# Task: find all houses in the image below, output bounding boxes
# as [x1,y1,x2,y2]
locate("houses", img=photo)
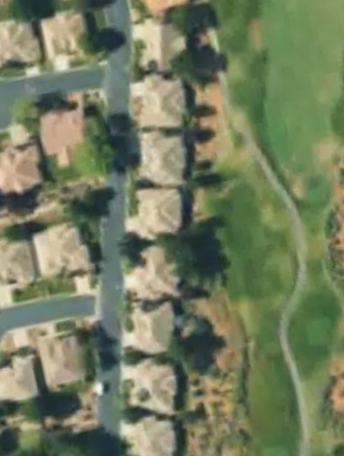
[42,12,85,61]
[136,19,185,72]
[39,113,83,166]
[129,248,179,300]
[126,304,174,353]
[39,340,84,387]
[34,226,89,276]
[0,20,42,68]
[0,356,40,401]
[126,418,178,456]
[135,77,185,127]
[0,239,37,289]
[140,133,187,184]
[126,362,176,412]
[133,189,184,236]
[0,146,42,195]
